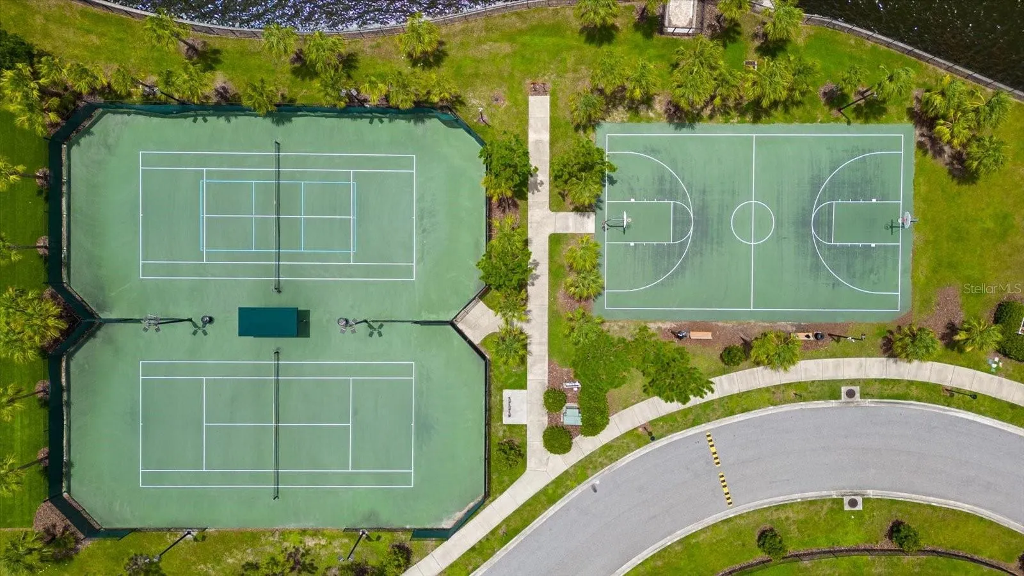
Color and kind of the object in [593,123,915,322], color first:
green basketball court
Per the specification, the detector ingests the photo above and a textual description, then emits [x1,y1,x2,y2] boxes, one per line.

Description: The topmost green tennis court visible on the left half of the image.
[66,110,487,320]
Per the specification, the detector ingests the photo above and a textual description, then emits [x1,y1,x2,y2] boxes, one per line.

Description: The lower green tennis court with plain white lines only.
[66,320,486,528]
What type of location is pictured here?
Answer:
sports ground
